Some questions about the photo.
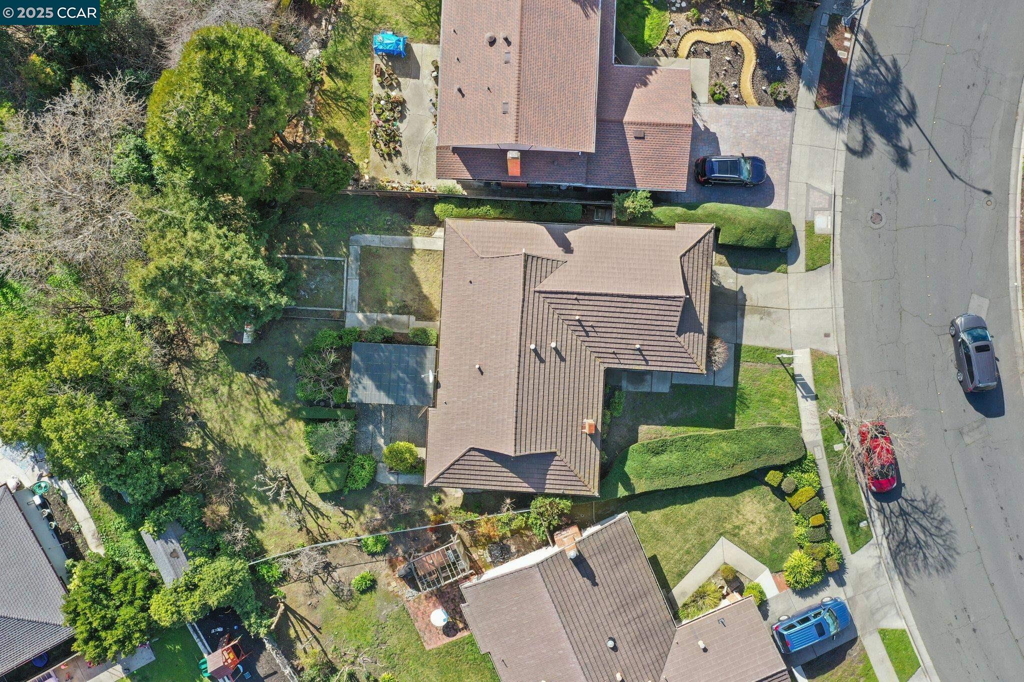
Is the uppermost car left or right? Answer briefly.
right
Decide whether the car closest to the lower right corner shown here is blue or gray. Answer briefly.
blue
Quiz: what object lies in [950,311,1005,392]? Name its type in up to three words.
car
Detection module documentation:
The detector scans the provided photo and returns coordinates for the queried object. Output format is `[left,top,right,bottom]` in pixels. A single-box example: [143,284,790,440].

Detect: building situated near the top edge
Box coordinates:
[436,0,695,191]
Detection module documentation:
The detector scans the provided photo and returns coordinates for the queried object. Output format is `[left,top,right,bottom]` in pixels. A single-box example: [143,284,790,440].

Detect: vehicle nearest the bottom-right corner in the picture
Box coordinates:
[771,598,855,659]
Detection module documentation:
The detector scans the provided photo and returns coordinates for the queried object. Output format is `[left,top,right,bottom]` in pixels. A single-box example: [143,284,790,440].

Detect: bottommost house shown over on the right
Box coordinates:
[458,508,797,682]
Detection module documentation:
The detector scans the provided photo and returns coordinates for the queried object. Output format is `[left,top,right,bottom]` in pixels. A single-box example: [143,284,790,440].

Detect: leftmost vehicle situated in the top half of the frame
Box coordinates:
[693,148,769,186]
